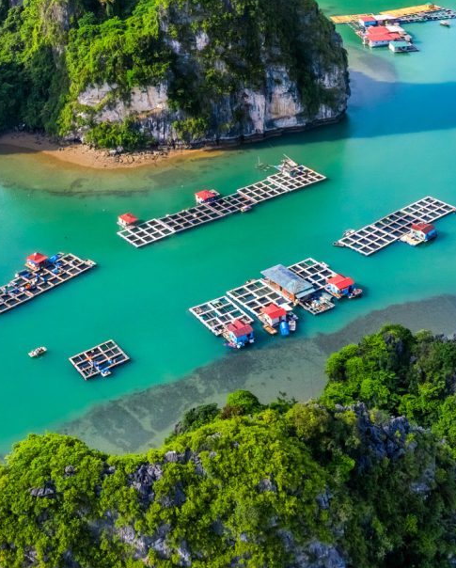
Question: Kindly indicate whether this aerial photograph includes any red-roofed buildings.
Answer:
Yes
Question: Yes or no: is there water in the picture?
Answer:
Yes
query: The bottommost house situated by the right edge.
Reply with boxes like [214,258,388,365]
[402,221,436,247]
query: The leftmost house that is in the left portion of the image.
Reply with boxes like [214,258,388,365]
[21,250,47,273]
